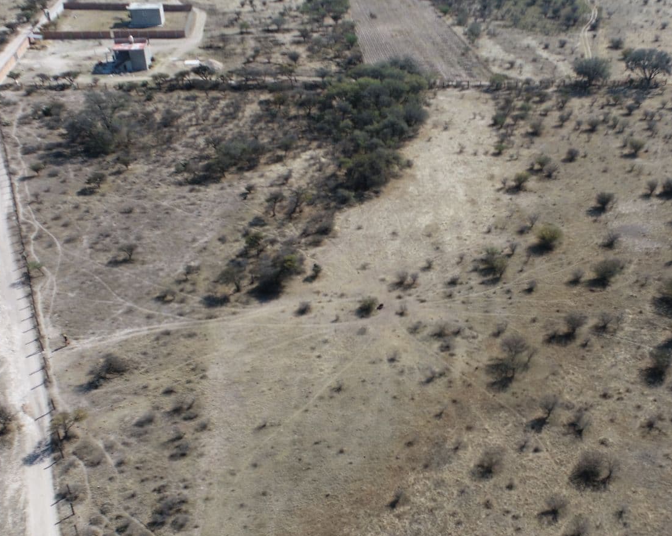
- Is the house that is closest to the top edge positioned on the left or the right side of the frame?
left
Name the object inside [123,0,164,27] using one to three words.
house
